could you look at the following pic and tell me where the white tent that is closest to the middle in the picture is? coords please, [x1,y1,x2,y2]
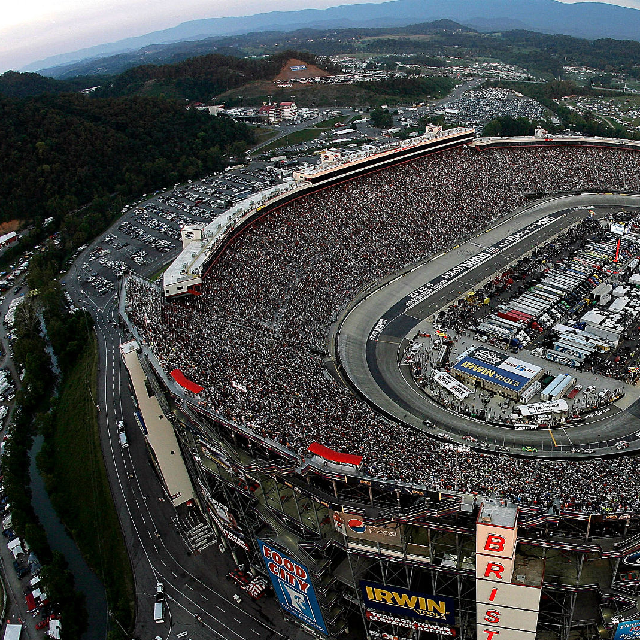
[433,373,475,406]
